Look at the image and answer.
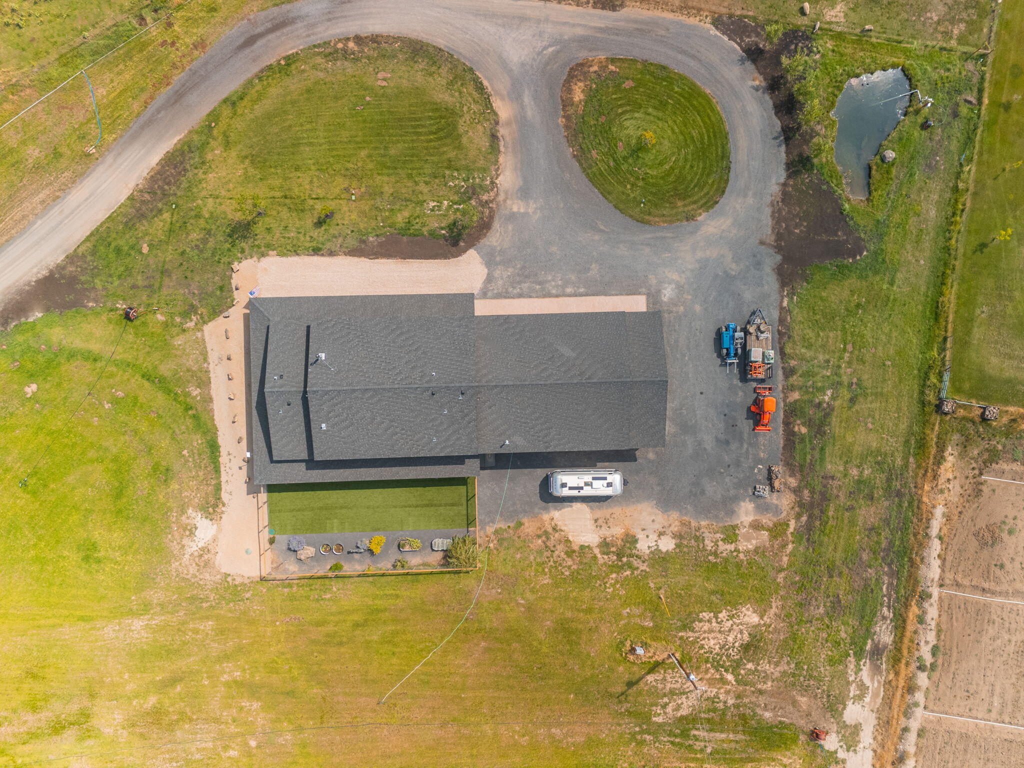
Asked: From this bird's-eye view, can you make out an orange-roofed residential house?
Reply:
No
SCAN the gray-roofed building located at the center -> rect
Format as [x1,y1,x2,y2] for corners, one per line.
[249,293,668,485]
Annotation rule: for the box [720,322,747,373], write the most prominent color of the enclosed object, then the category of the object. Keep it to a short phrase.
blue work vehicle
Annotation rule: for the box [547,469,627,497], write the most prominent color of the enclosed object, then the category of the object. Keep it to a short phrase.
white trailer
